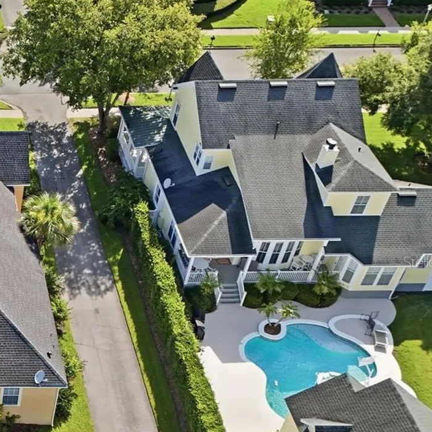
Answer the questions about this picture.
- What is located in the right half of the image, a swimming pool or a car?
swimming pool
